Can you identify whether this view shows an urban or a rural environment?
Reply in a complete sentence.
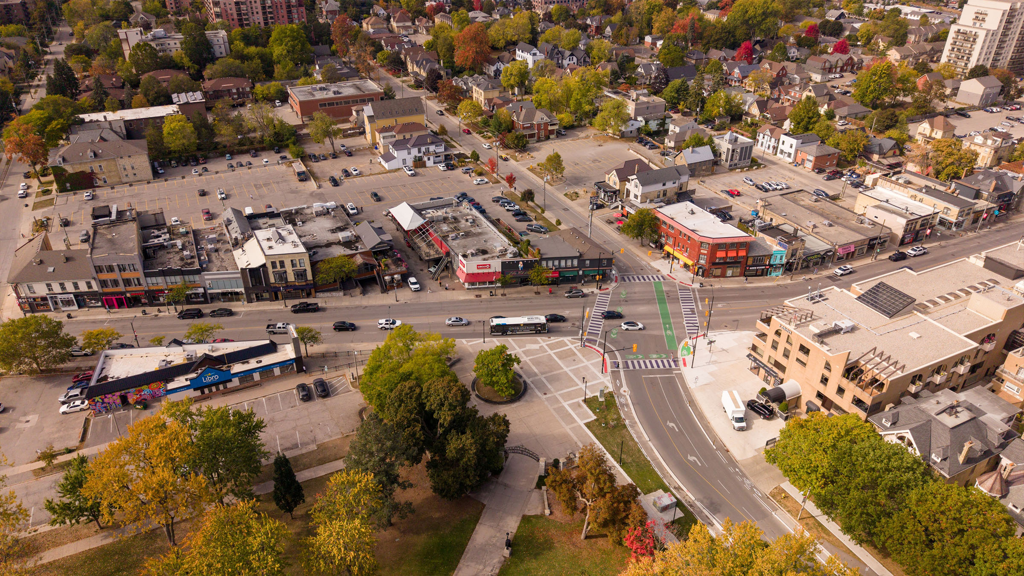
From above, the setting appears urban.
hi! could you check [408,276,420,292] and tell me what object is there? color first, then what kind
white vehicle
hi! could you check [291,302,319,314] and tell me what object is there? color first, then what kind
black vehicle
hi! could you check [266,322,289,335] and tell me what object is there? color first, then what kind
gray vehicle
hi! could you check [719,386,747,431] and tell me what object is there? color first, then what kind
white truck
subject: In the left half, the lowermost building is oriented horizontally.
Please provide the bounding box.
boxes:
[86,325,306,417]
